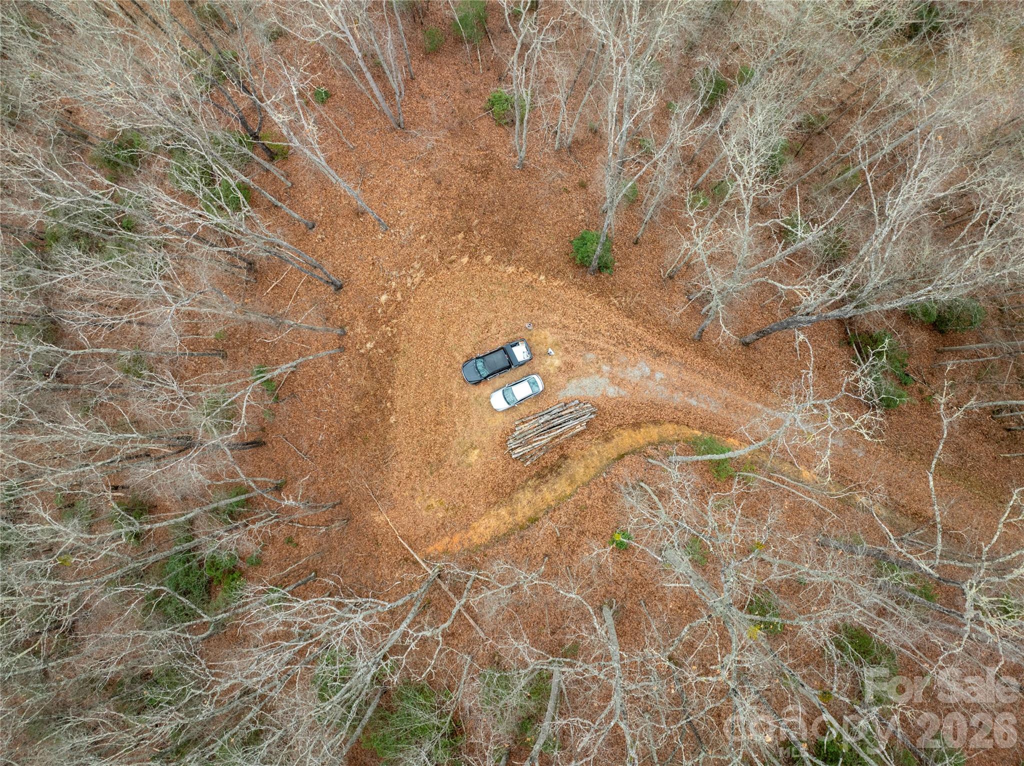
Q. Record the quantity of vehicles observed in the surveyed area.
2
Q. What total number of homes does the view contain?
0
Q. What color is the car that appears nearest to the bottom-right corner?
white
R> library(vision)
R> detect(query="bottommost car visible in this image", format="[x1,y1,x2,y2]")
[489,375,546,413]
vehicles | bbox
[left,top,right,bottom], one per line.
[461,338,535,387]
[489,375,546,413]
